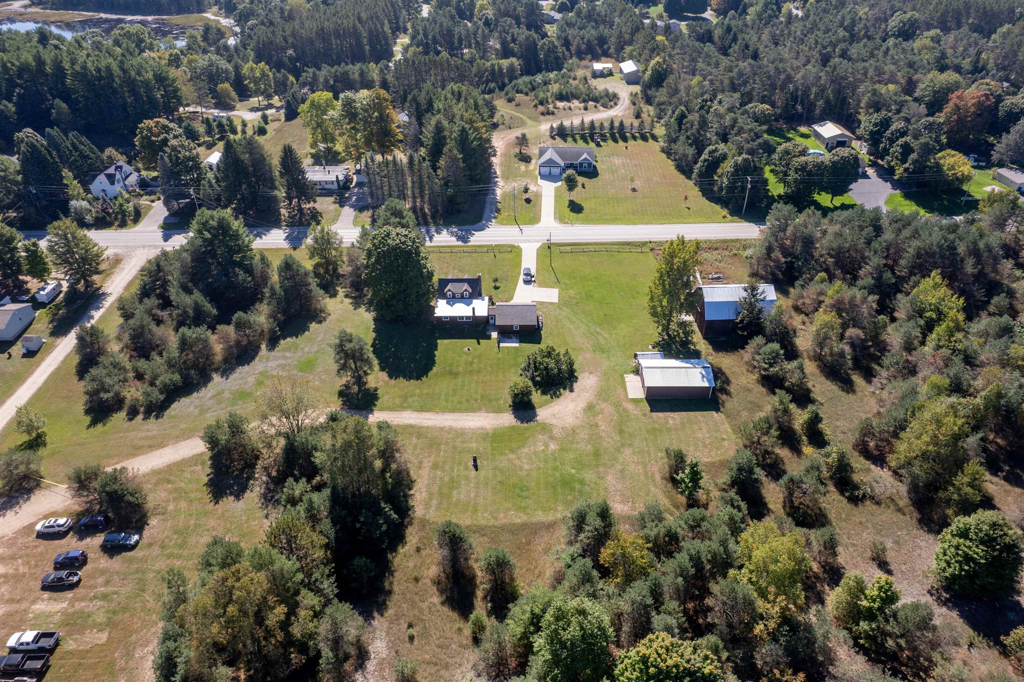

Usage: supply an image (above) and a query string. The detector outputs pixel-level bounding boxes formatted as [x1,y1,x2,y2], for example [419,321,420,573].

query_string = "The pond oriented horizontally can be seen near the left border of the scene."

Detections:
[5,17,219,51]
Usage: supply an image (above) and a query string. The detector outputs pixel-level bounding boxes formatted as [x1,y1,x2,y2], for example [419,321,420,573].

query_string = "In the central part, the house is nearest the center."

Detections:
[434,267,537,334]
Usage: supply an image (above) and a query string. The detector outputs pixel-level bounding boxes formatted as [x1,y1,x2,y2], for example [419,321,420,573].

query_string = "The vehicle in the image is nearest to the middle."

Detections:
[523,268,535,281]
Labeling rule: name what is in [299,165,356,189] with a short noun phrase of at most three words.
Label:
house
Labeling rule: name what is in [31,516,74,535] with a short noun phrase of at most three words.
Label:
car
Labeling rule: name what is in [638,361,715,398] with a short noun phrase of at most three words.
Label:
shed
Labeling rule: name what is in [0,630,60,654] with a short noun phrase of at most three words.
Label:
truck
